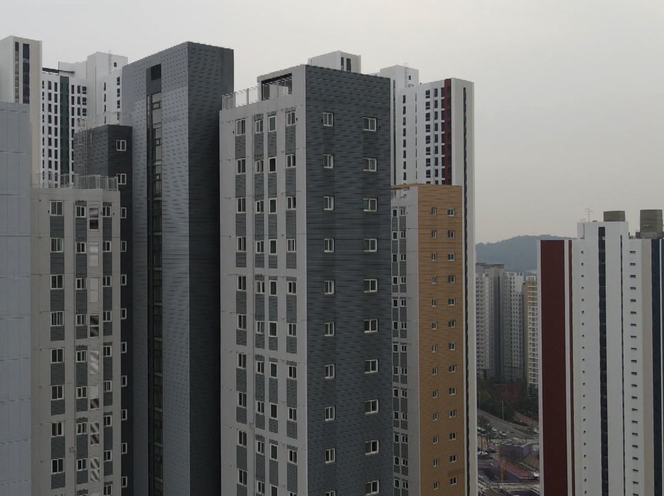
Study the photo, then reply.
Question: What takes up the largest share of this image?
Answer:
buildings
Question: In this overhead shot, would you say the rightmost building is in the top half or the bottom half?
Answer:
bottom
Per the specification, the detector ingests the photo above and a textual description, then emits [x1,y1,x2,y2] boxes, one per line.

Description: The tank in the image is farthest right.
[639,210,664,235]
